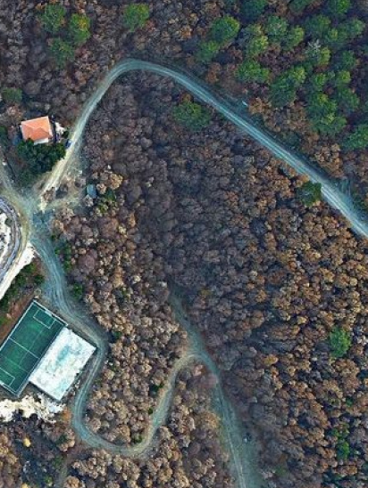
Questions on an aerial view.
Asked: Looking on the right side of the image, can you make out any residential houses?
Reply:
No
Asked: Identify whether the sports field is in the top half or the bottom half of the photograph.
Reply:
bottom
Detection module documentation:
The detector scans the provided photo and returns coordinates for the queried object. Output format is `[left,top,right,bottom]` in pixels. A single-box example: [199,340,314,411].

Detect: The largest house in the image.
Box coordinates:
[21,116,54,144]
